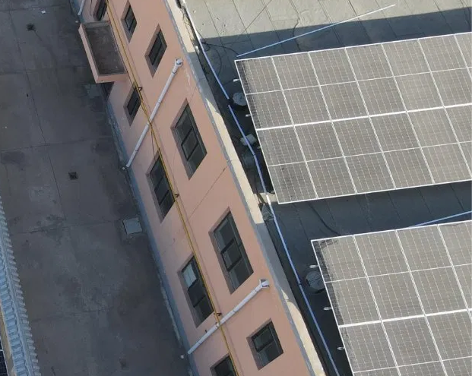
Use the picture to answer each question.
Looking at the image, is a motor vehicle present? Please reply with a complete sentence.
No, there appears to be no motor vehicle in this shot.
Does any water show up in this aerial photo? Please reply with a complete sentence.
No, water can't be seen anywhere here.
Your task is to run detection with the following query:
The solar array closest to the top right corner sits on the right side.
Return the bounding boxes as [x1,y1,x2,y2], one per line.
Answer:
[228,31,472,205]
